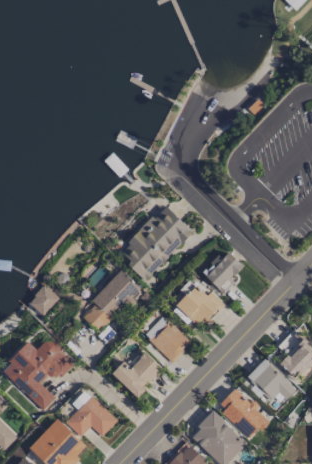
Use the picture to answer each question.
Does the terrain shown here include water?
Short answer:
Yes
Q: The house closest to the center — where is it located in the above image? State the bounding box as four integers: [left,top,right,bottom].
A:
[122,206,193,281]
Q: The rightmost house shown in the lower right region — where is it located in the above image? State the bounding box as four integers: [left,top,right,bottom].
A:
[280,334,312,376]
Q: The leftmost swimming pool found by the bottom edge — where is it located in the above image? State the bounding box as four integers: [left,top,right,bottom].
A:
[241,451,256,464]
